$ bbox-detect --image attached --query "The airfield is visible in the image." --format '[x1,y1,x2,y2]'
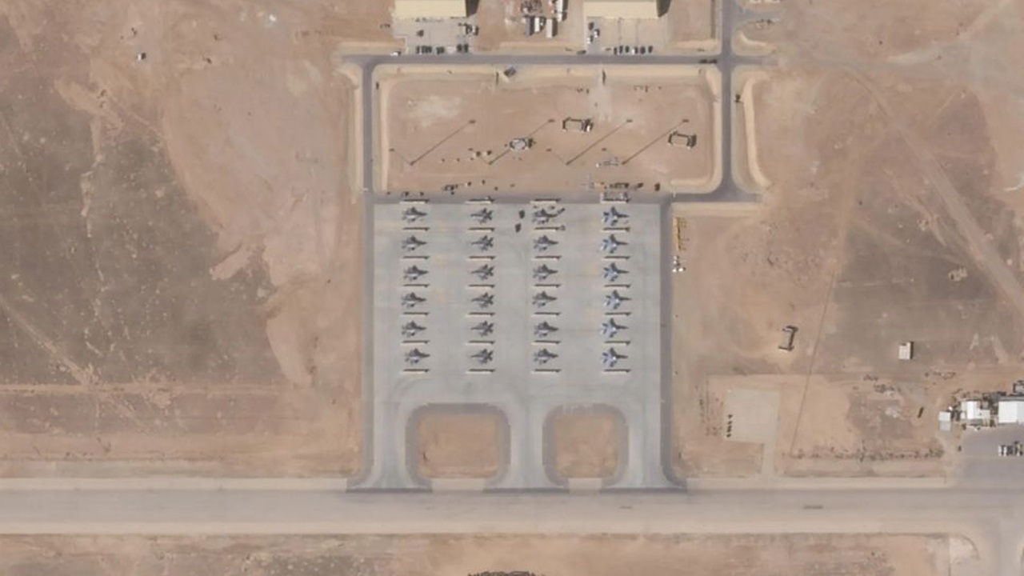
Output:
[0,192,1024,576]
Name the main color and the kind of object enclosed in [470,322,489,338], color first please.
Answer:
gray airplane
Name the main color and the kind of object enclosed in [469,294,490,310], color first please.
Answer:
gray airplane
